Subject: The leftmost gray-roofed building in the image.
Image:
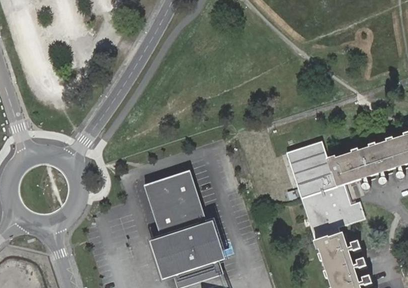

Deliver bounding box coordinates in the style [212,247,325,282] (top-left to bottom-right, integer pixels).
[144,170,228,288]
